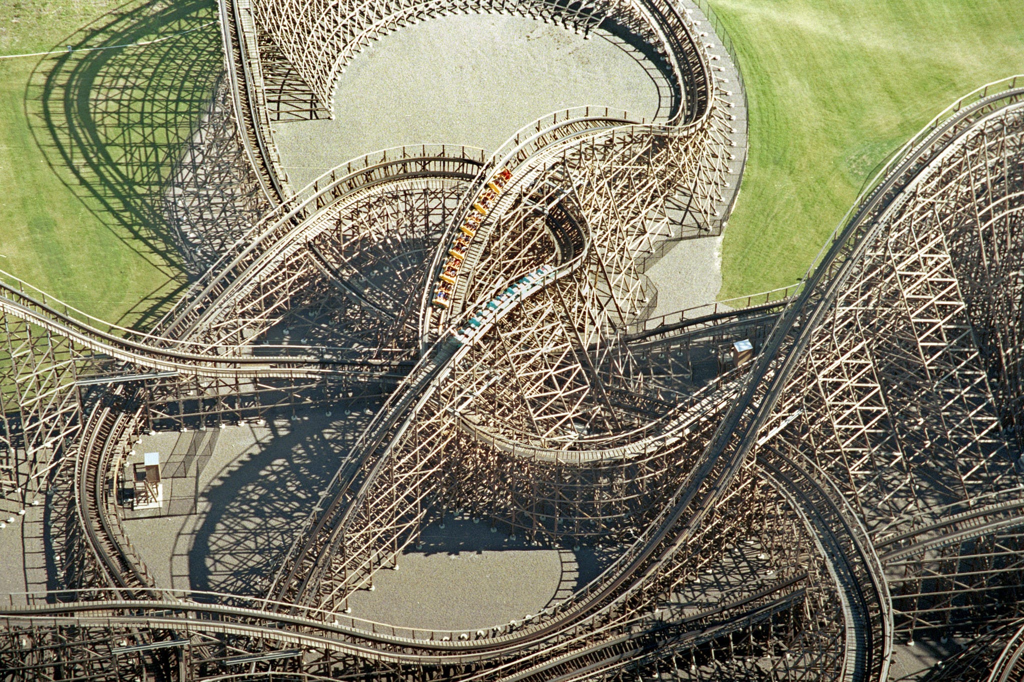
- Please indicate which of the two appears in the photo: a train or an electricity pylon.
train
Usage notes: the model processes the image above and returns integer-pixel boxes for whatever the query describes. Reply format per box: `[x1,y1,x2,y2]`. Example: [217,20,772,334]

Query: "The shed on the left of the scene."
[130,451,166,507]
